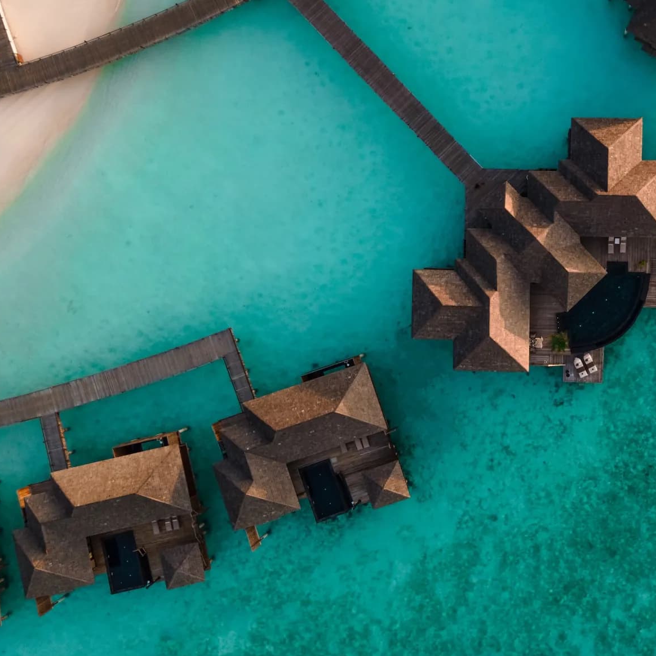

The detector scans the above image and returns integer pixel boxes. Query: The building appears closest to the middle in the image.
[210,351,411,551]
